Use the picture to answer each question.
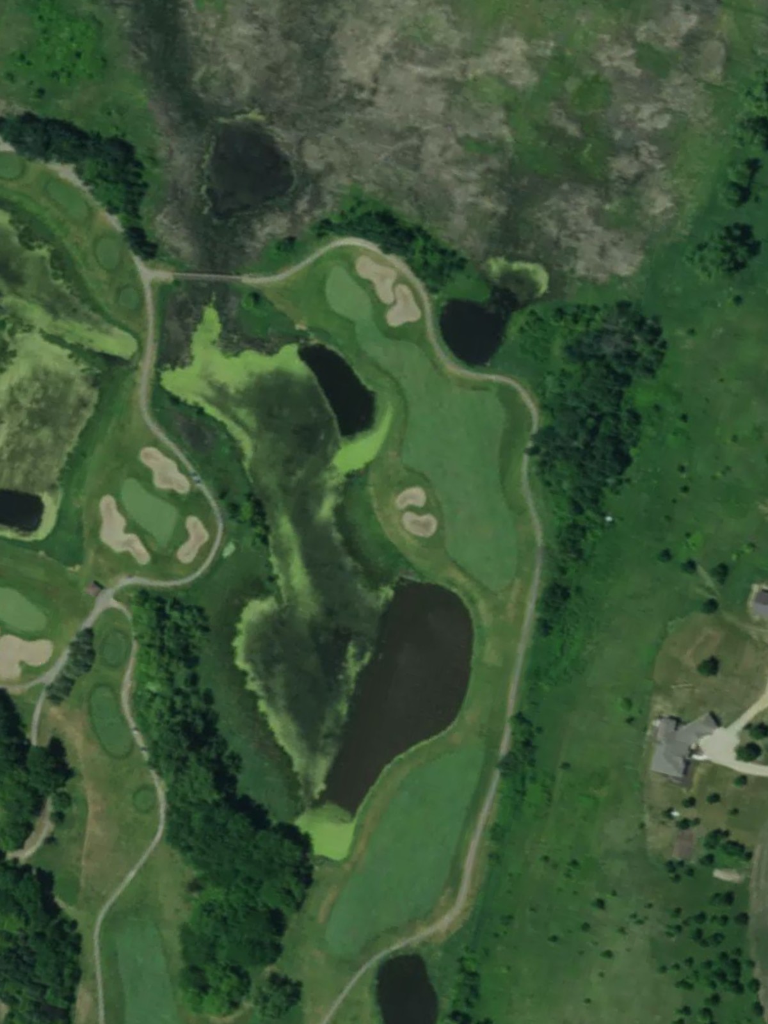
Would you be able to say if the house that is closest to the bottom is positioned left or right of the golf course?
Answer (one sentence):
It is on the right side of the golf course that the house that is closest to the bottom is positioned.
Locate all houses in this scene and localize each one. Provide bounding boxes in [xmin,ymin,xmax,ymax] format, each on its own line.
[650,714,717,787]
[752,589,768,619]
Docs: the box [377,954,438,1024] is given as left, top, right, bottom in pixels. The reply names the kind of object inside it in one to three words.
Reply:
pond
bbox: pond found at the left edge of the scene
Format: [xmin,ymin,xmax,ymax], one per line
[0,448,74,542]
